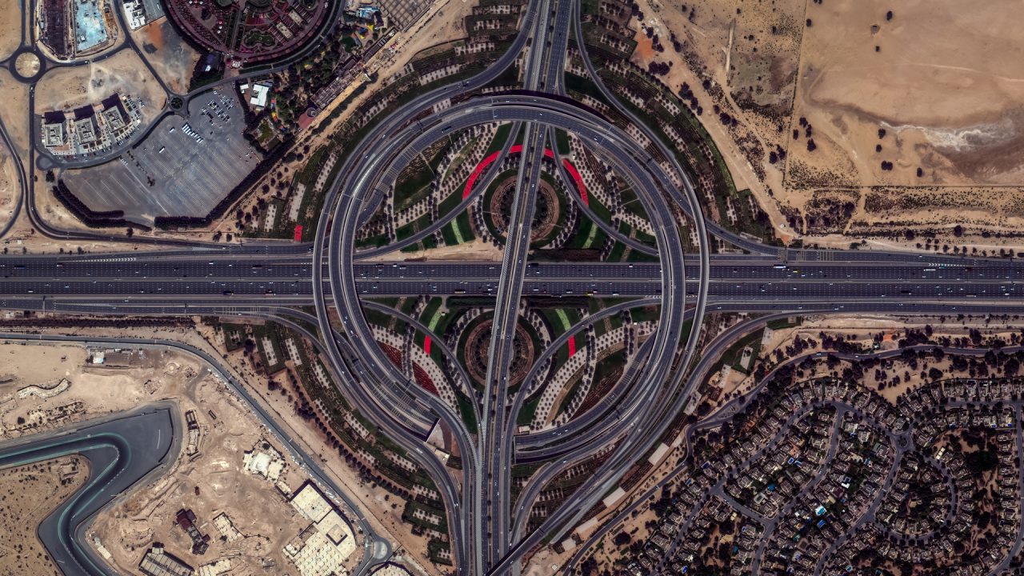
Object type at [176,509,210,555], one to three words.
house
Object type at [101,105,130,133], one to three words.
building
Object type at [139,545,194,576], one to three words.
shed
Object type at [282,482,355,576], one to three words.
building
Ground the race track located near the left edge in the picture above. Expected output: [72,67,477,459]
[0,394,187,576]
